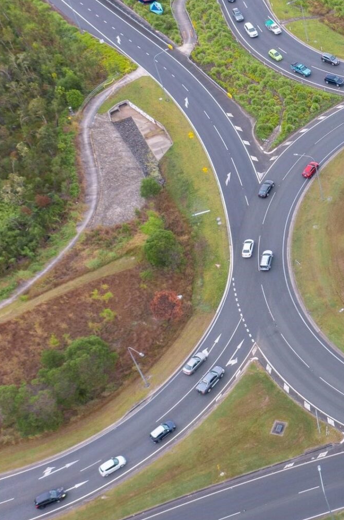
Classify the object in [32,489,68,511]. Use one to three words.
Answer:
car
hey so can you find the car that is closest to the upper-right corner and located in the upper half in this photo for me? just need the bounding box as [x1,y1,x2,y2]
[321,52,340,66]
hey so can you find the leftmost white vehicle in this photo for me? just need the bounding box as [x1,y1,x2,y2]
[95,454,131,479]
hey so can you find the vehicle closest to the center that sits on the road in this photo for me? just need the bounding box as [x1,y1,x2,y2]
[242,239,255,259]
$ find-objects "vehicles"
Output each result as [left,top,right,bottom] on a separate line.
[233,8,244,21]
[95,454,131,479]
[300,162,320,179]
[264,17,281,34]
[32,489,68,511]
[321,52,340,66]
[257,180,275,199]
[260,250,273,272]
[324,74,344,87]
[267,50,283,62]
[181,351,209,375]
[242,239,255,259]
[193,366,227,393]
[290,62,312,77]
[147,420,179,446]
[245,23,258,36]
